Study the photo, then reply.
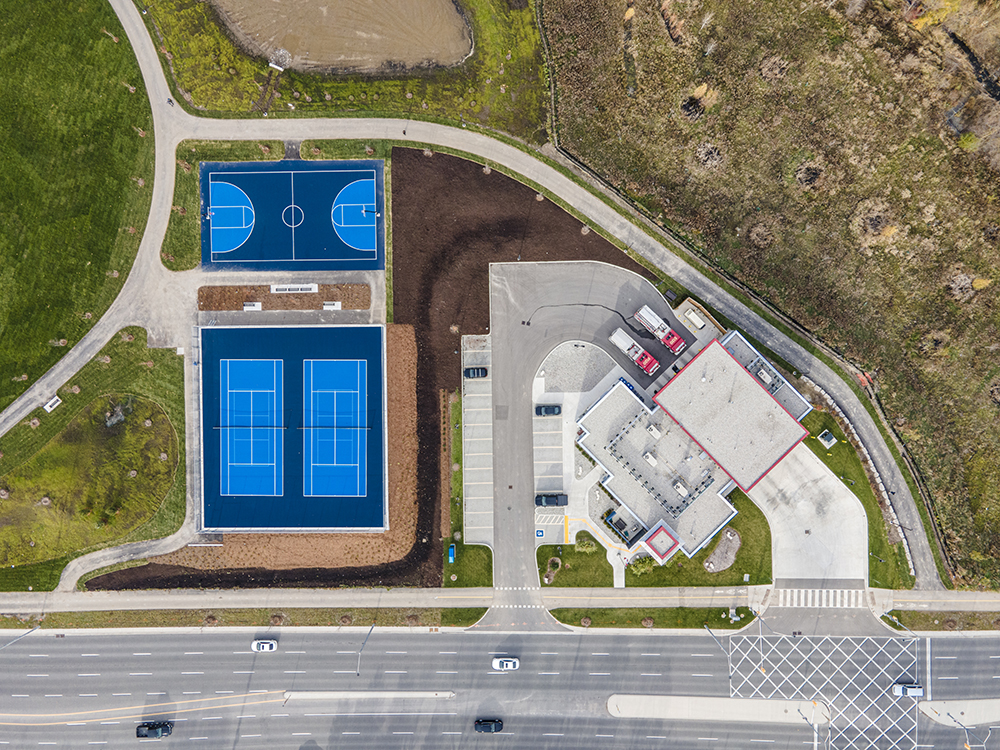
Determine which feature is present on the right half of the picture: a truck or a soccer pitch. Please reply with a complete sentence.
Visible on the right half of the picture is a truck.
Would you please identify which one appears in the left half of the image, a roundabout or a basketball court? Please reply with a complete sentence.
It is a basketball court that can be seen in the left half of the image.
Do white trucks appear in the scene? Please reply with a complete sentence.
Yes, there is a white truck in the image.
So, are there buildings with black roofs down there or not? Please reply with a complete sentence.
No, the frame has no building with a black roof in it.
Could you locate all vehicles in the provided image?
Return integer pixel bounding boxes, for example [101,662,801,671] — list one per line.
[475,718,502,733]
[251,639,278,653]
[633,306,684,354]
[607,330,658,378]
[137,722,173,738]
[462,366,488,379]
[492,656,520,671]
[535,493,568,508]
[892,683,925,698]
[534,404,562,417]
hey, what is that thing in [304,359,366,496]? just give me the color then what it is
blue tennis court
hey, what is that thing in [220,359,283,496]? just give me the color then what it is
blue tennis court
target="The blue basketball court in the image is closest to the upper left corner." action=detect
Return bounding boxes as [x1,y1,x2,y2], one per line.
[199,159,384,271]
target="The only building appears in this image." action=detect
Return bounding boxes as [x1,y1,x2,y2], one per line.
[573,330,814,566]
